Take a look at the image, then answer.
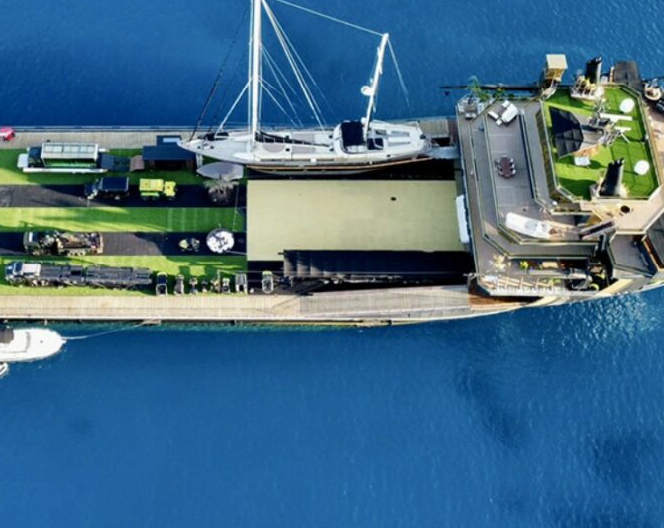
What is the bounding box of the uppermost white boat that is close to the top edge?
[180,0,431,176]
